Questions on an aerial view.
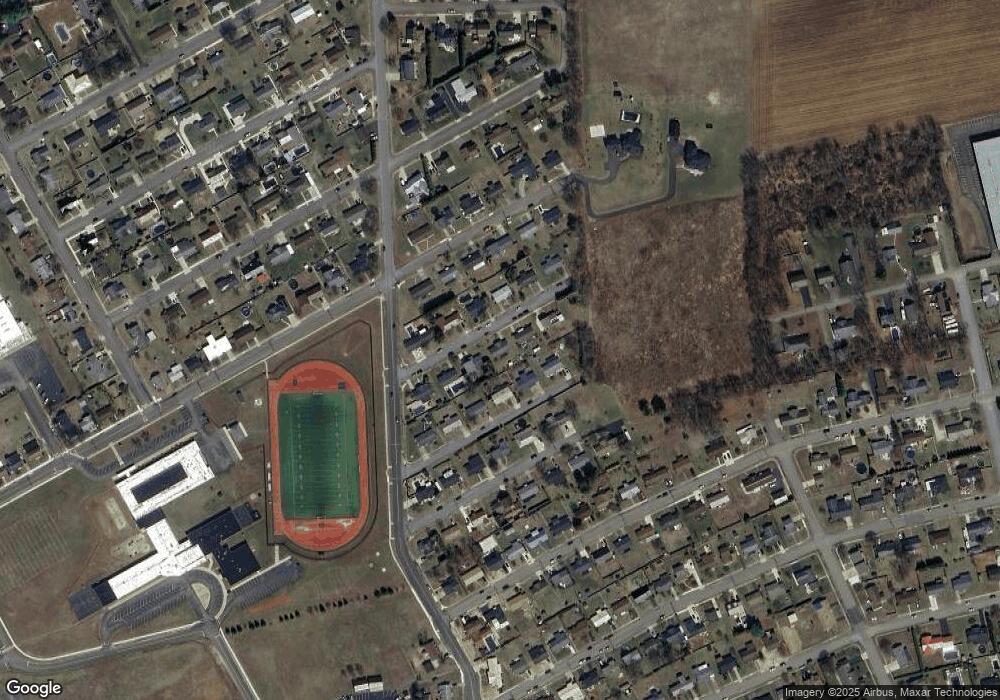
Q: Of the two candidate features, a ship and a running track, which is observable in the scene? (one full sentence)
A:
Looking from above, you can make out a running track.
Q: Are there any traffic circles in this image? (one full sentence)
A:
Yes, there's a traffic circle down there.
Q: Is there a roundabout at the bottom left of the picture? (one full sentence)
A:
Yes, the scene does show a roundabout at the bottom left of the picture.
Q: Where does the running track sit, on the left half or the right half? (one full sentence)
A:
The running track is on the left side of the image.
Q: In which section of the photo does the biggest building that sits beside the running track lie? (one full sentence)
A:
You can find the biggest building that sits beside the running track in the bottom left area of the picture.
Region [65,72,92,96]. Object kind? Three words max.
house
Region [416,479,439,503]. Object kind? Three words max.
house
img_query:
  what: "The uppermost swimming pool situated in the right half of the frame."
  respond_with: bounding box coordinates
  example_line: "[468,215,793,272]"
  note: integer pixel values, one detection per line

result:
[621,110,641,123]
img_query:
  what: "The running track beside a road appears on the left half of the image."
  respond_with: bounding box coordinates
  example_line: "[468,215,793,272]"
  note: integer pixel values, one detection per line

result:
[268,356,373,555]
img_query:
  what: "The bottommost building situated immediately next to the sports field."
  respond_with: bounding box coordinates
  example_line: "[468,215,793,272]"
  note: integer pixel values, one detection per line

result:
[68,441,262,620]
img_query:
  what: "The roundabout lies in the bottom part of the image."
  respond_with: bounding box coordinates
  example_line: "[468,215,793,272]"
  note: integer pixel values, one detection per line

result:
[183,571,230,632]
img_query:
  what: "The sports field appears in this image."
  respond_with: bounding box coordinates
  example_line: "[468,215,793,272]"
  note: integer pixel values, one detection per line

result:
[281,392,360,518]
